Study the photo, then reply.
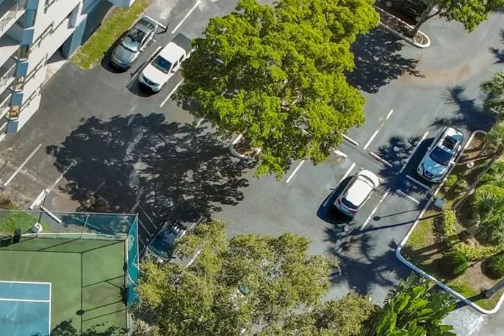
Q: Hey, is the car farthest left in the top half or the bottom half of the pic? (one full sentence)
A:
The car farthest left is in the top half of the image.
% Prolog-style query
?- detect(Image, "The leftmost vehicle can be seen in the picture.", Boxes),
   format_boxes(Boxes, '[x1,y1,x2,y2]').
[110,18,160,70]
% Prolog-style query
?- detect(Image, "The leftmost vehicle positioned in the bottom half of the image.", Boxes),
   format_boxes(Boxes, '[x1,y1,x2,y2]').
[139,212,200,274]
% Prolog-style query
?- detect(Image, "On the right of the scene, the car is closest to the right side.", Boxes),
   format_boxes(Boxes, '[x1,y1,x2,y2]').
[411,128,466,186]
